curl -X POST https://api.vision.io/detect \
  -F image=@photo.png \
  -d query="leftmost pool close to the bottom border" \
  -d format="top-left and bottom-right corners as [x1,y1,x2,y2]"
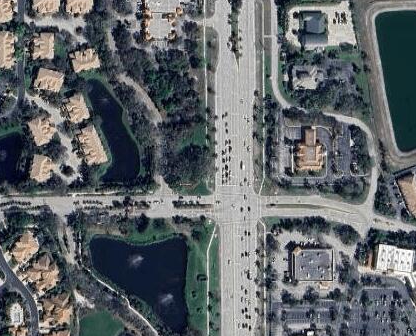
[10,303,23,325]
